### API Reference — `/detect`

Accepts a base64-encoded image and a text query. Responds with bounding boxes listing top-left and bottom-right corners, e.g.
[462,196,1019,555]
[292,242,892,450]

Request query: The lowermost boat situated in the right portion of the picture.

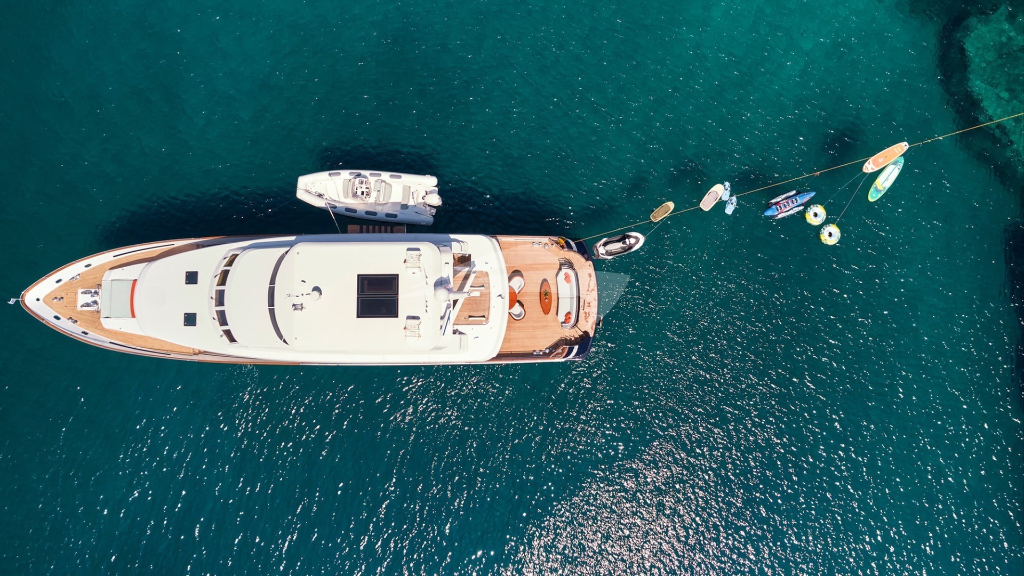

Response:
[592,232,646,259]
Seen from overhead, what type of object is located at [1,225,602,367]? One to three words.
boat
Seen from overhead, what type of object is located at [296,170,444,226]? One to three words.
boat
